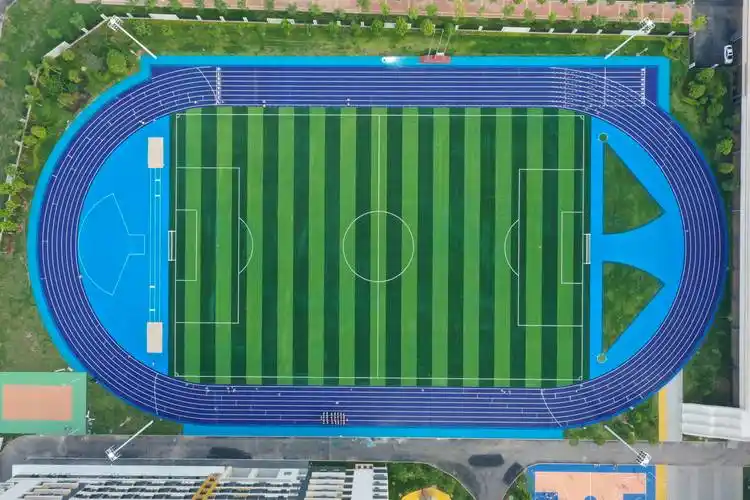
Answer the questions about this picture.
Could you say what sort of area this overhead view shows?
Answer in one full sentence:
This image shows a sports ground.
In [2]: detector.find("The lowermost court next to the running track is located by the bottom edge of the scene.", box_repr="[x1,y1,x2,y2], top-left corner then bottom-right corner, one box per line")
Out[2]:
[529,465,656,500]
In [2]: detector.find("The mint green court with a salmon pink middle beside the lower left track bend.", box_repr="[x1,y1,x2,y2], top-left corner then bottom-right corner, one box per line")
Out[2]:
[0,372,89,435]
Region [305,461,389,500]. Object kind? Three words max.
building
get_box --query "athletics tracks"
[27,56,729,436]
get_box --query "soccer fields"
[168,105,591,387]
